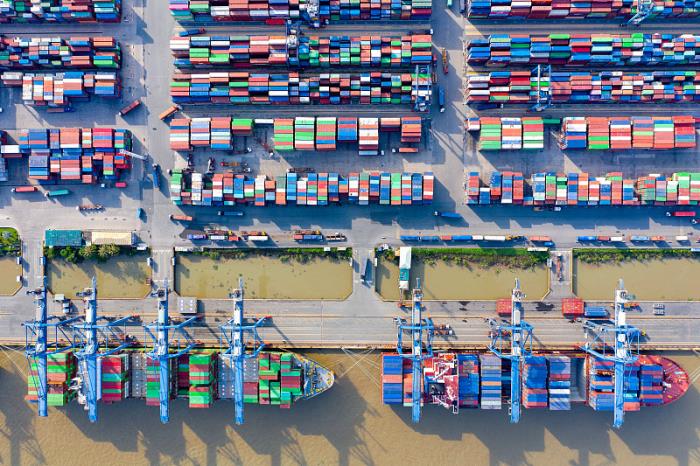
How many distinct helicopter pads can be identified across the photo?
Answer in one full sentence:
No helicopter pads are visible.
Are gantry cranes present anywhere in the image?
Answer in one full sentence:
Yes, a gantry crane appears in the view.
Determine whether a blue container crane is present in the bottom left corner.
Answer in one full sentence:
Yes, there is a blue container crane in the bottom left corner.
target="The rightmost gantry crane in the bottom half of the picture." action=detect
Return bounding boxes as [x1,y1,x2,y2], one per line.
[564,279,634,430]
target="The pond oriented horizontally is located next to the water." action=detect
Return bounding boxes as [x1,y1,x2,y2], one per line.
[0,249,700,299]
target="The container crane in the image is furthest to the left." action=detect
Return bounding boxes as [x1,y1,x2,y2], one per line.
[26,277,102,420]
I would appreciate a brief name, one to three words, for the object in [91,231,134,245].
shed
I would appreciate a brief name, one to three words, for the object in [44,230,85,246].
shed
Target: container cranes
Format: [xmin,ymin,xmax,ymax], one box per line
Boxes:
[564,279,634,430]
[409,64,432,116]
[221,279,273,427]
[301,0,322,33]
[474,279,531,425]
[77,278,146,424]
[522,64,551,115]
[148,281,208,427]
[283,24,305,76]
[26,277,102,420]
[618,0,656,33]
[386,278,432,424]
